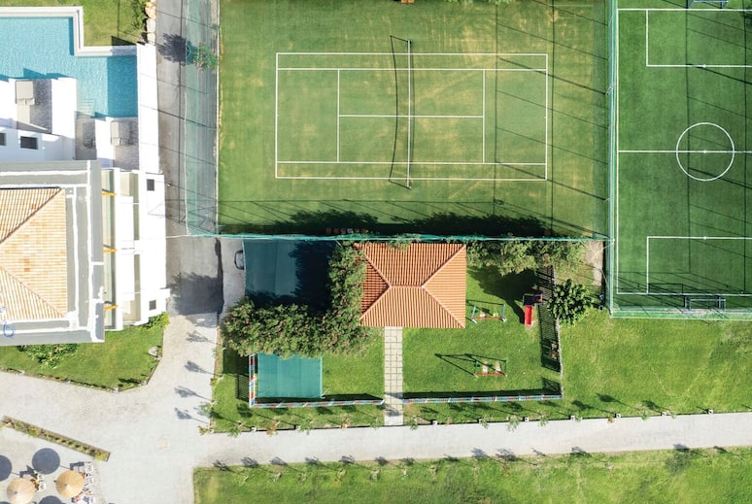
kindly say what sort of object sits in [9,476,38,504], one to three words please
umbrella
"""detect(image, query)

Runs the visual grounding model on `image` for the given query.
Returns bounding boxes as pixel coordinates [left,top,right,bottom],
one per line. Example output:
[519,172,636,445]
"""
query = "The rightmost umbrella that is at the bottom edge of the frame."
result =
[58,468,86,497]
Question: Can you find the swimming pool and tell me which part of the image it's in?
top left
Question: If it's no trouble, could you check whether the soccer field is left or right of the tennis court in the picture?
to the right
